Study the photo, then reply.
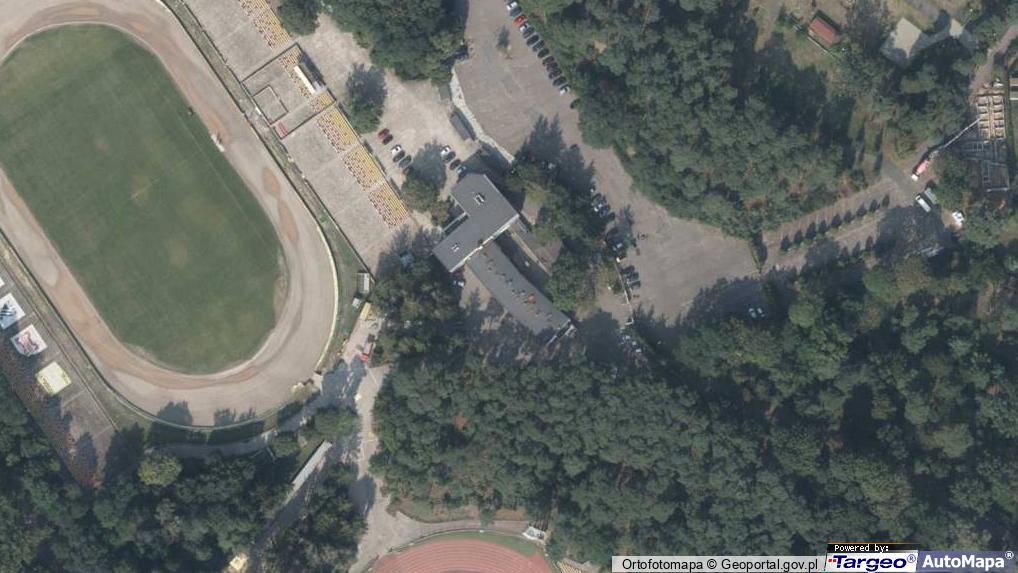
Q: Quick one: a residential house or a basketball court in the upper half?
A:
residential house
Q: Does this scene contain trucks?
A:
Yes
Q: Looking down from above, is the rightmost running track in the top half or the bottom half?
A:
bottom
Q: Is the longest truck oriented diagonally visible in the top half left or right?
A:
right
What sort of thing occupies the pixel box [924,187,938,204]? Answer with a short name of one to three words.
vehicle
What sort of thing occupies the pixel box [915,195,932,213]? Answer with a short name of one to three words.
vehicle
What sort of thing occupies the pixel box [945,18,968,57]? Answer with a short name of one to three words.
building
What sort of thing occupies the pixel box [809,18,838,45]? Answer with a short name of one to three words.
house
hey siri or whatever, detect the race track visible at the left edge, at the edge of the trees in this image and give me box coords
[0,0,336,426]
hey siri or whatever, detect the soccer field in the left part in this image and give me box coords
[0,22,286,374]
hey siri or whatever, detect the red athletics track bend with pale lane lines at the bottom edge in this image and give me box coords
[375,531,557,573]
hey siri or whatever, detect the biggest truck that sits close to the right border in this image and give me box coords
[912,116,981,180]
